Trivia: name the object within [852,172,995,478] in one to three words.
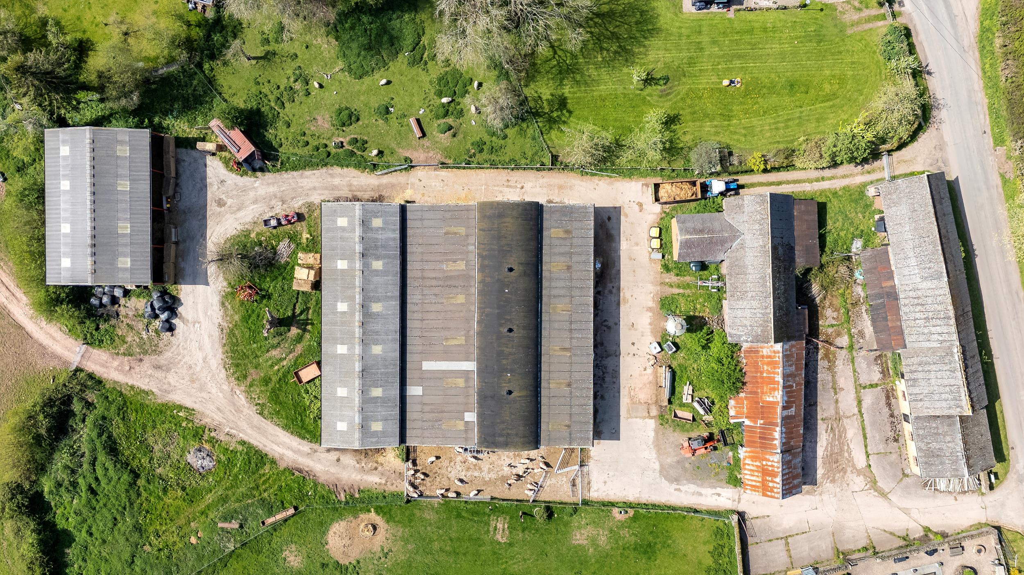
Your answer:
building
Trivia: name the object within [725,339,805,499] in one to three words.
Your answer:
barn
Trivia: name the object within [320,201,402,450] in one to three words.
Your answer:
shed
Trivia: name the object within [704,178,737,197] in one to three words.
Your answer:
work vehicle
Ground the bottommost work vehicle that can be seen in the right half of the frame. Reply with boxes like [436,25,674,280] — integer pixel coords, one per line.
[675,432,728,460]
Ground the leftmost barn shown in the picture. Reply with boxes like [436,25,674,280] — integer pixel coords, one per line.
[43,125,168,287]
